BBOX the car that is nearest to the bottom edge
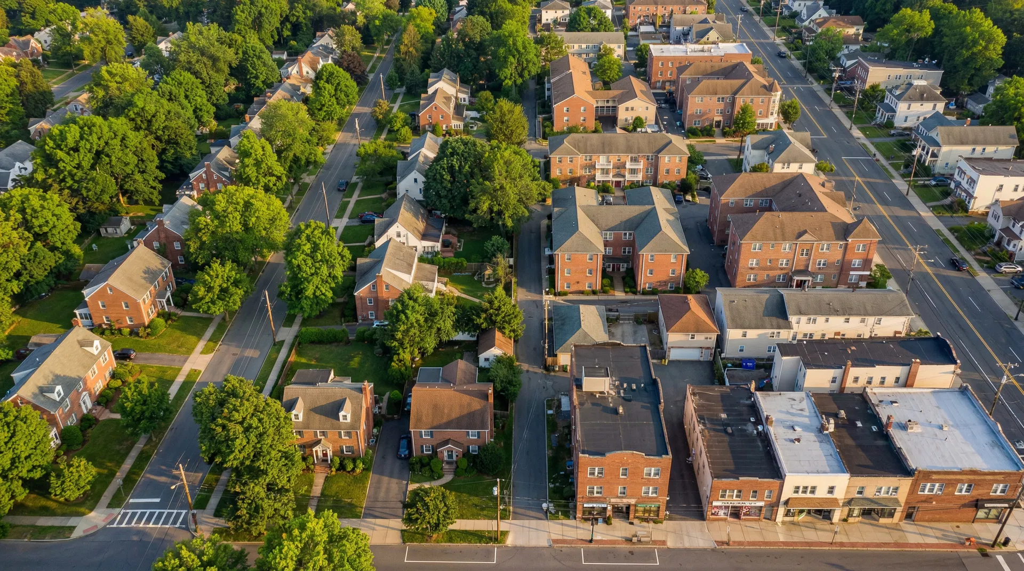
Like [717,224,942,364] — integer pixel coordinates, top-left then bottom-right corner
[397,431,411,454]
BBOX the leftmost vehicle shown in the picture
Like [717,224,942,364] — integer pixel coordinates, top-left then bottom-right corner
[11,344,33,360]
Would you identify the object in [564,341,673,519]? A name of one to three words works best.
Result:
building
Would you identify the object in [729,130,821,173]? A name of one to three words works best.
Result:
house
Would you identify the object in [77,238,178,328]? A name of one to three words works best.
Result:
house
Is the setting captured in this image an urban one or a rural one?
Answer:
urban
